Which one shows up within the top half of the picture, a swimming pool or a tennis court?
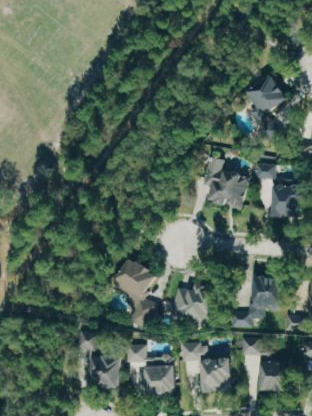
swimming pool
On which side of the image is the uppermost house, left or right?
right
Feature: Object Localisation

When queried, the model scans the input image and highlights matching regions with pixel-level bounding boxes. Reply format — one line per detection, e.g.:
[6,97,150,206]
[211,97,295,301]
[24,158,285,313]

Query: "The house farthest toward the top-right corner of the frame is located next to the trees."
[246,74,288,113]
